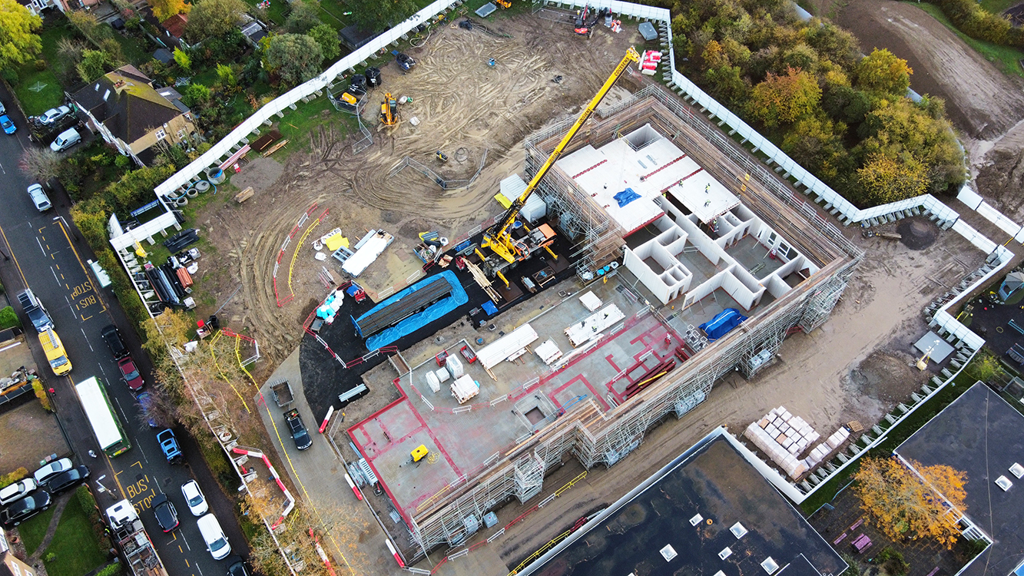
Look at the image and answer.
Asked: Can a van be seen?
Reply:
Yes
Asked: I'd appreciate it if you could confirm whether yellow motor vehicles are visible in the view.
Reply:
Yes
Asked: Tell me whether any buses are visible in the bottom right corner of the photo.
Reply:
No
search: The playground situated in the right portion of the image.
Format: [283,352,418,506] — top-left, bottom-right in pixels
[951,263,1024,387]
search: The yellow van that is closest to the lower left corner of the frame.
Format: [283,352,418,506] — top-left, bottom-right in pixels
[33,327,72,379]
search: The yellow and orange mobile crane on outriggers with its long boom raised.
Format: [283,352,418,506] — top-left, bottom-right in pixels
[477,42,646,322]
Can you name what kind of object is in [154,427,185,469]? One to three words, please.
car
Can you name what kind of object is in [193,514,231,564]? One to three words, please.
van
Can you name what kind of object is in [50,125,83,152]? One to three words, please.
vehicle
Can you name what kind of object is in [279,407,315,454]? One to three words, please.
truck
